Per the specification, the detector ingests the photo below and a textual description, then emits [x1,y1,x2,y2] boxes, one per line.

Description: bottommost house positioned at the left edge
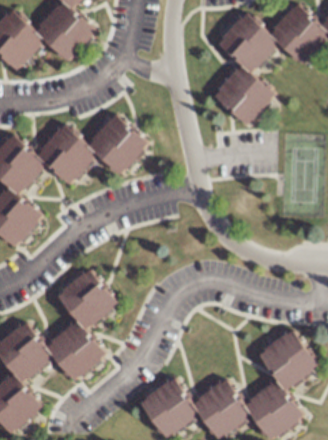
[0,374,40,432]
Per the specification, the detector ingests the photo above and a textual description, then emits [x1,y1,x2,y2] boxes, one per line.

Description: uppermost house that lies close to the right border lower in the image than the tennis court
[260,331,317,389]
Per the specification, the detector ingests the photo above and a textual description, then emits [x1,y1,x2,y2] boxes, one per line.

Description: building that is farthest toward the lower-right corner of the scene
[246,382,302,439]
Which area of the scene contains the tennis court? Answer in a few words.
right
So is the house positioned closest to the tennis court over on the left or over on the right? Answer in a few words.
right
